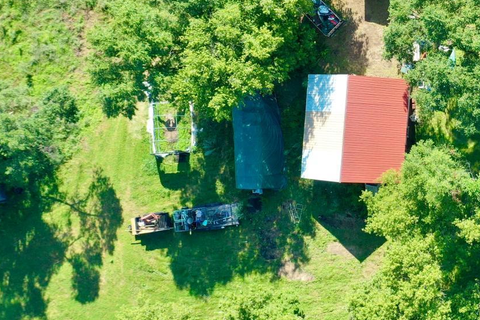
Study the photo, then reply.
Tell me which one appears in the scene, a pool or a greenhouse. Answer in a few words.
greenhouse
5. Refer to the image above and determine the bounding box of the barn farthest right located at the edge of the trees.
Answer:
[302,73,414,185]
